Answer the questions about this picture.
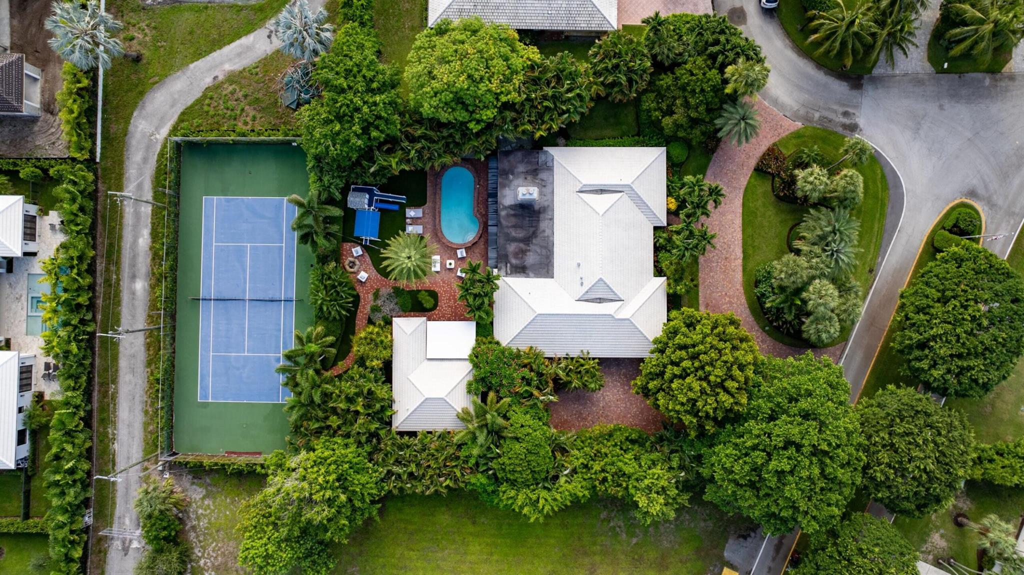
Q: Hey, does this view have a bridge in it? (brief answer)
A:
No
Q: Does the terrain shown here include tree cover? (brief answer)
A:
Yes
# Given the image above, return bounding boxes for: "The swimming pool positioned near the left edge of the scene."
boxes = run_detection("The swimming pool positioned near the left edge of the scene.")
[26,273,64,336]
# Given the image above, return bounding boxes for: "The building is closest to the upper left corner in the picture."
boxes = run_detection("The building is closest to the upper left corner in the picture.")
[0,53,45,119]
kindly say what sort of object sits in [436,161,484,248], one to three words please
swimming pool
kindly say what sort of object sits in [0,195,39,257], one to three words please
house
